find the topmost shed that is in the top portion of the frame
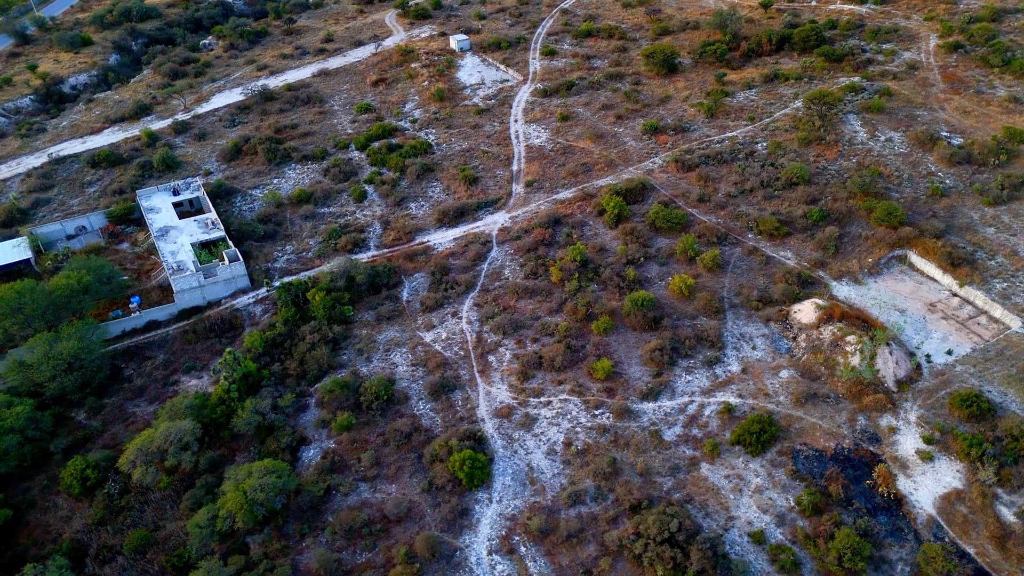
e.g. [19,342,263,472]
[449,35,470,55]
